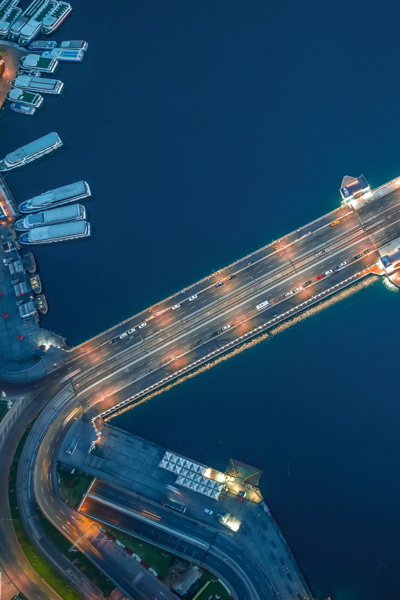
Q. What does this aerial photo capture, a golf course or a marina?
marina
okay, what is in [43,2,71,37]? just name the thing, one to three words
boat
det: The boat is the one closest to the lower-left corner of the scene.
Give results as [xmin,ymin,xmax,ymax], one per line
[34,293,50,315]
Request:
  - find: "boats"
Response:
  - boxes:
[34,293,50,315]
[0,0,20,22]
[14,205,88,231]
[43,48,87,64]
[43,2,71,37]
[23,252,38,274]
[0,134,66,172]
[11,104,38,116]
[7,91,46,108]
[27,273,43,295]
[20,183,92,212]
[21,56,60,74]
[61,41,91,54]
[0,9,23,39]
[12,78,66,95]
[20,0,57,47]
[28,41,58,53]
[9,0,46,43]
[20,222,92,246]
